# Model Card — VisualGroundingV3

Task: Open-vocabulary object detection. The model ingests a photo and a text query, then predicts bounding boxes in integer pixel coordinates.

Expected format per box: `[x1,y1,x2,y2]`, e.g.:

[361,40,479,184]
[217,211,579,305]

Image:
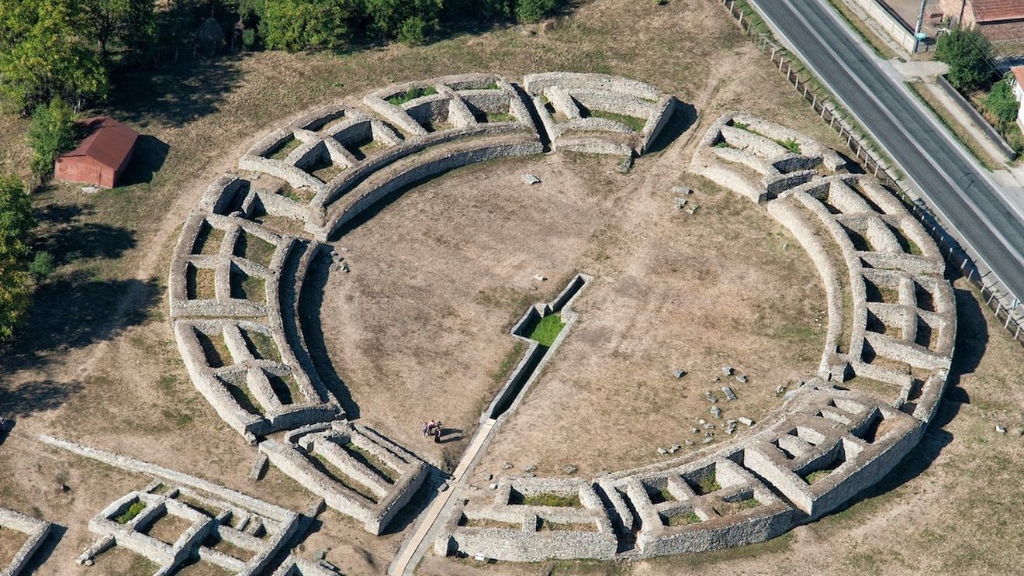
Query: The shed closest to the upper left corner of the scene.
[55,119,134,187]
